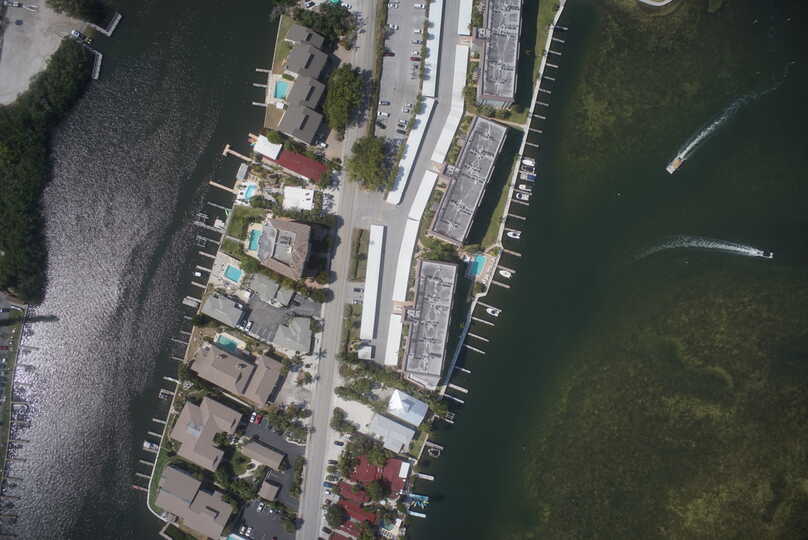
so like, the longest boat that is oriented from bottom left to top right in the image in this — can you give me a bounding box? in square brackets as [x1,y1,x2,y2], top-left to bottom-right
[667,156,683,173]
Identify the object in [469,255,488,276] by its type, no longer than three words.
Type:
swimming pool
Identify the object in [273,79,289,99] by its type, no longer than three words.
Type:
swimming pool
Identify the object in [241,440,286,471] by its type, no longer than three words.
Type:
building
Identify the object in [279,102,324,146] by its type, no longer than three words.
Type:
house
